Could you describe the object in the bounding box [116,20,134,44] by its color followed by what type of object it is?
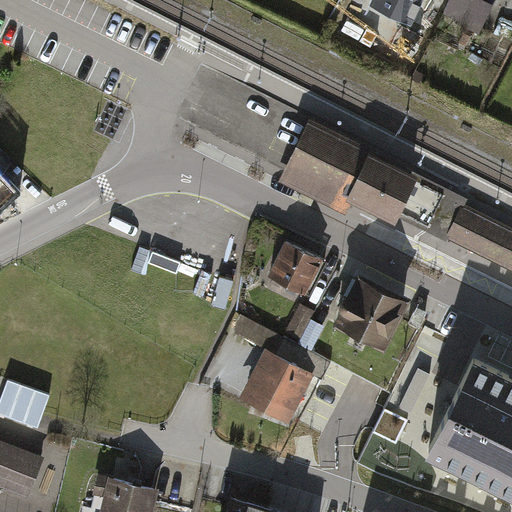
white car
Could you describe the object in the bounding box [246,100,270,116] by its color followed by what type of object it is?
white car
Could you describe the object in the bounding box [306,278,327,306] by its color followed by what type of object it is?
white vehicle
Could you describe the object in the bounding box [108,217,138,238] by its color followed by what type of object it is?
white vehicle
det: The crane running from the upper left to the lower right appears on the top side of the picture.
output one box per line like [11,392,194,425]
[326,0,416,65]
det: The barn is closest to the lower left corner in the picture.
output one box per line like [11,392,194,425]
[0,440,44,498]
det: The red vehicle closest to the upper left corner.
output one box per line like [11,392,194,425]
[2,23,18,46]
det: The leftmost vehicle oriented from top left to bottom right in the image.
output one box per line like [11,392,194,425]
[22,179,44,202]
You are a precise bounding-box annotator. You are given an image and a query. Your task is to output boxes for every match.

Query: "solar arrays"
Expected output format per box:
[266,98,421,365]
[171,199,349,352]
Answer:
[448,432,512,478]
